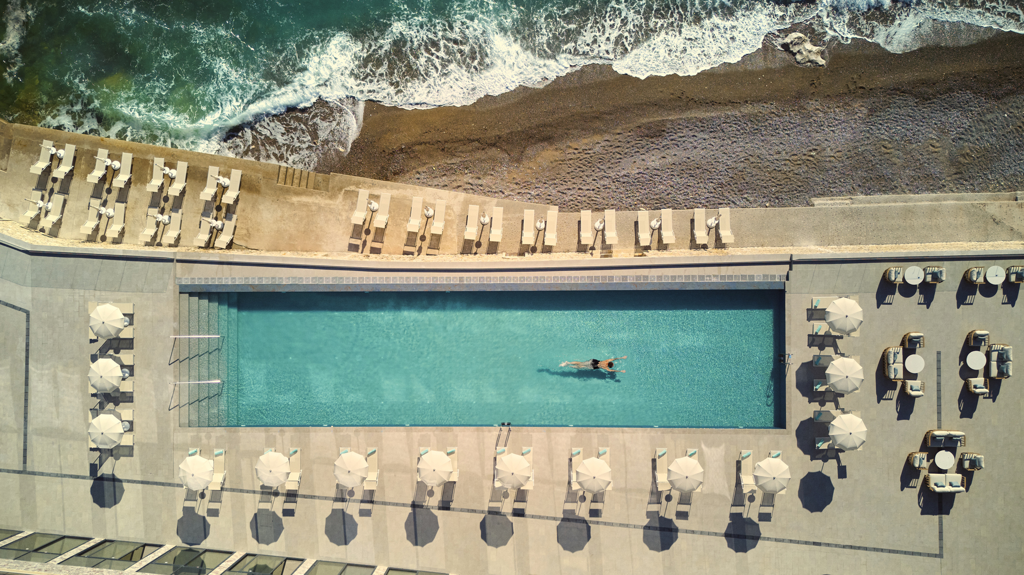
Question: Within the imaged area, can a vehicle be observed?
No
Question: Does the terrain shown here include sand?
Yes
